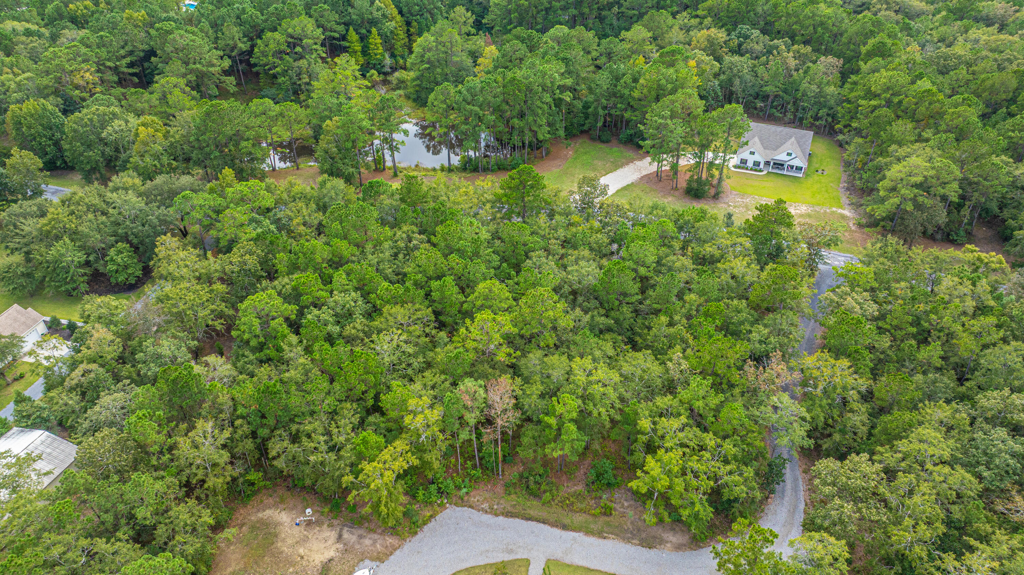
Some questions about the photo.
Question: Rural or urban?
rural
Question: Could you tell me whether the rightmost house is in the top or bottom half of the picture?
top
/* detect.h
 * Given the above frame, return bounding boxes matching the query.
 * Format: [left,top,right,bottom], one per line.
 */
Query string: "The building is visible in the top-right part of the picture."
[736,122,818,177]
